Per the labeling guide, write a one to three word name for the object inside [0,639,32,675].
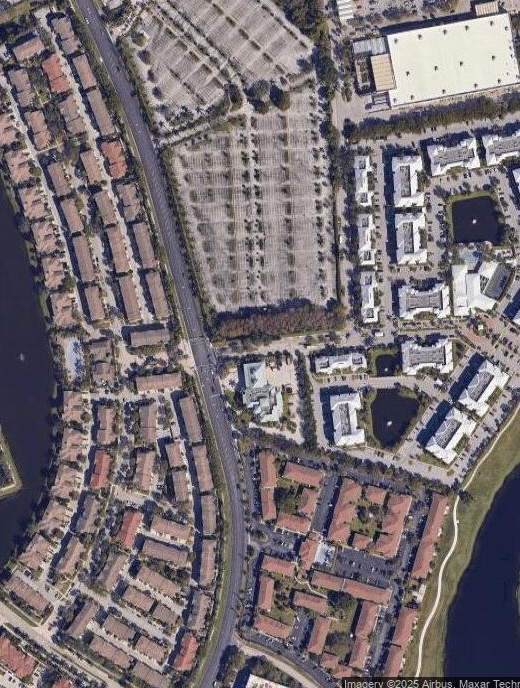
building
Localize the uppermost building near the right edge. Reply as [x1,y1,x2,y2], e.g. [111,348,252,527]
[387,14,520,107]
